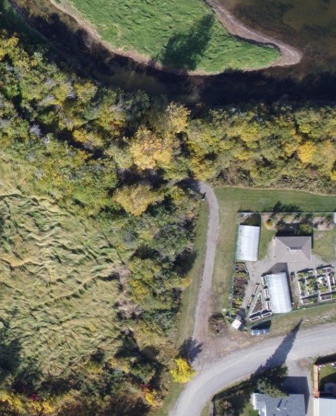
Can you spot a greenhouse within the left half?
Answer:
No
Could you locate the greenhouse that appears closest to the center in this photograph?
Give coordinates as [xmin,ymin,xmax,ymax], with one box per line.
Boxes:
[233,225,259,262]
